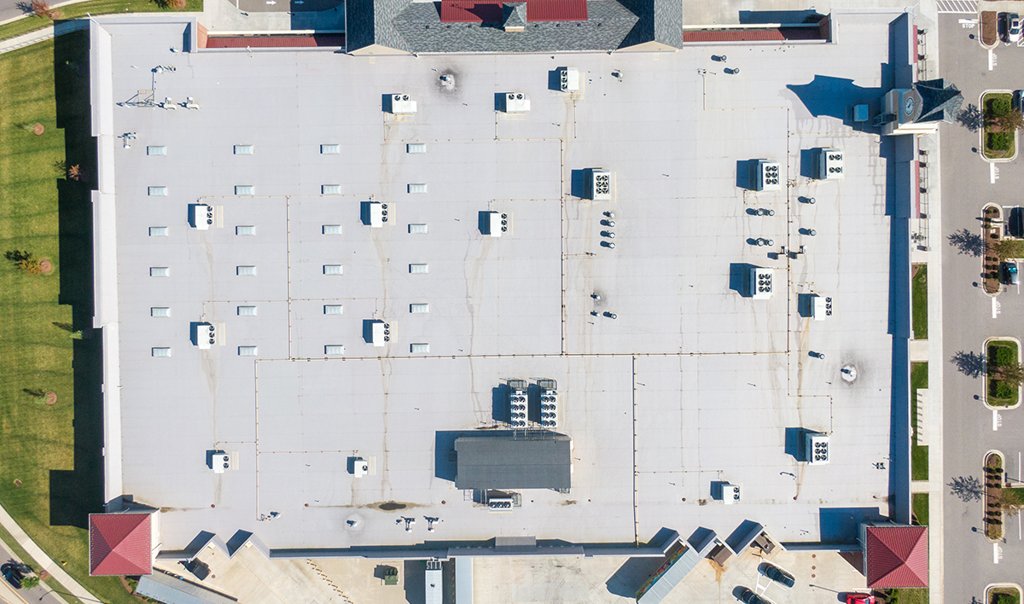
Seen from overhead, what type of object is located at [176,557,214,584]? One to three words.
truck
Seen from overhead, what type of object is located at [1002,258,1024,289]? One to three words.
car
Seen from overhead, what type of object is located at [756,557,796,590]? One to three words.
car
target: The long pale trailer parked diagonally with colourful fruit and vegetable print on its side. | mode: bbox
[609,541,702,604]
